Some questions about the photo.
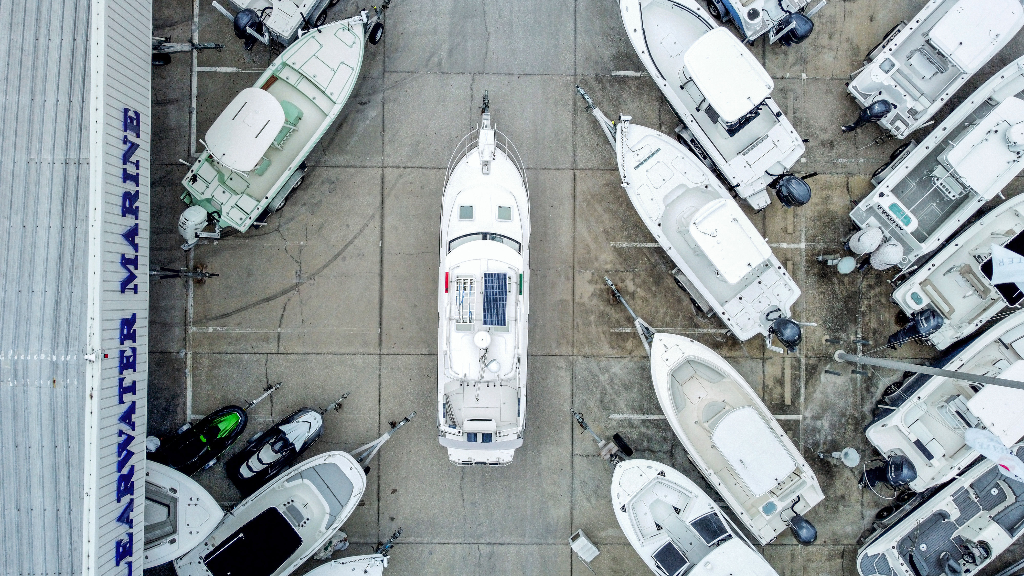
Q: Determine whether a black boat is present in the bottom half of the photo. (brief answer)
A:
Yes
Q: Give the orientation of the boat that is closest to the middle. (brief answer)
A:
vertically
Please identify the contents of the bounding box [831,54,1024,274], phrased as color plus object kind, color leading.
white boat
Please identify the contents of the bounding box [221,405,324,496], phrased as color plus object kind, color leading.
black boat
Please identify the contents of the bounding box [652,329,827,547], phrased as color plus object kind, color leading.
white boat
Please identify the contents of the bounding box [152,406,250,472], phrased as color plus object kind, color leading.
black boat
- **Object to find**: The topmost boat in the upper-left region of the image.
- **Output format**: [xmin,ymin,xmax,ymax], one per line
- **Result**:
[230,0,325,58]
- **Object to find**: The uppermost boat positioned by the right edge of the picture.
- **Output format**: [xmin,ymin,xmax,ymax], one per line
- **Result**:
[834,0,1024,149]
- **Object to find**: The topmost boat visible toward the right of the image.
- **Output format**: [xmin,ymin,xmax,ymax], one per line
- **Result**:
[720,0,816,70]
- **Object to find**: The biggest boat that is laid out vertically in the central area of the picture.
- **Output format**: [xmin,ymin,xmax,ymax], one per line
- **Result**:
[436,113,531,466]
